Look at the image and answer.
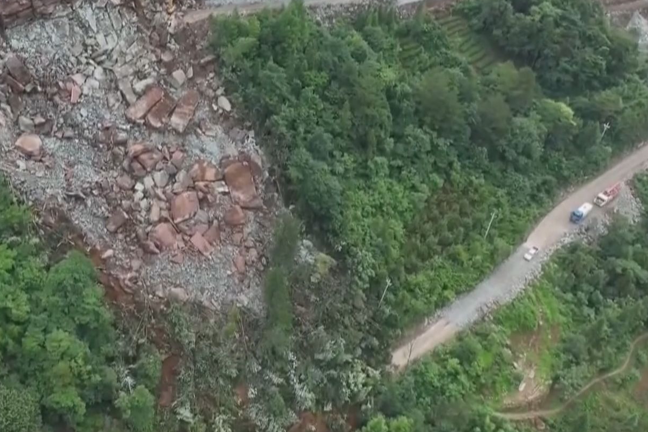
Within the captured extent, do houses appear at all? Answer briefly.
No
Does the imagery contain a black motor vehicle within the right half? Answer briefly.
No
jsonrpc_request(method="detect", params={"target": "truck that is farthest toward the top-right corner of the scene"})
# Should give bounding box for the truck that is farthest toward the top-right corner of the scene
[595,175,626,203]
